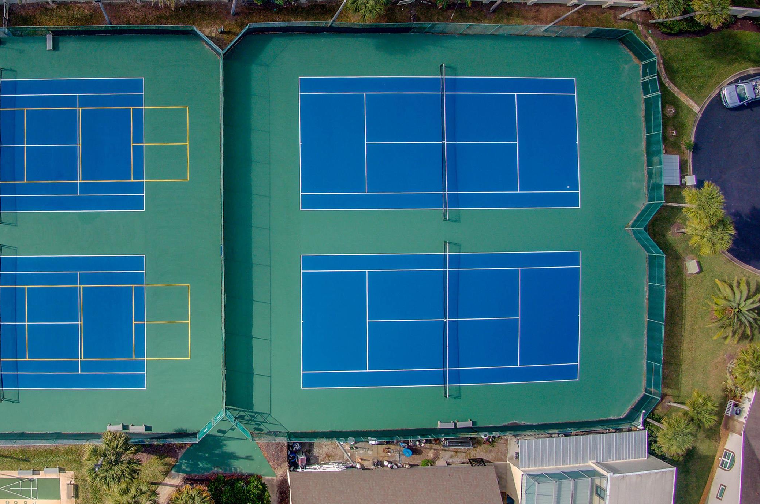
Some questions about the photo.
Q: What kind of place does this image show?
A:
sports ground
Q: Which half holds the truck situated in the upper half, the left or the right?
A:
right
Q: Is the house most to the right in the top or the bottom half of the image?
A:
bottom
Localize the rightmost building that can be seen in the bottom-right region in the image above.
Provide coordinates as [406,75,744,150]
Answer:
[708,393,760,504]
